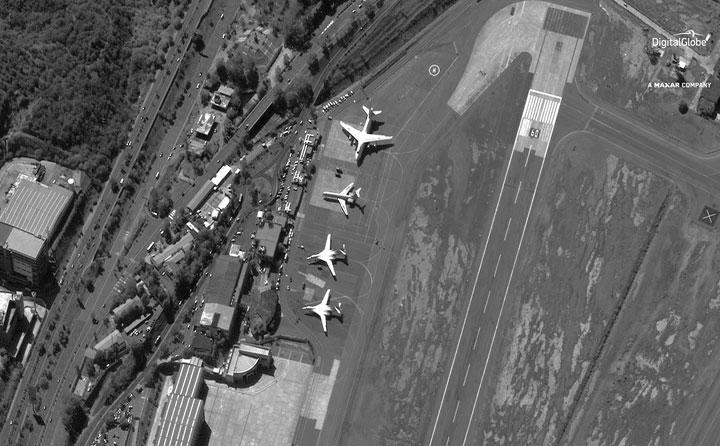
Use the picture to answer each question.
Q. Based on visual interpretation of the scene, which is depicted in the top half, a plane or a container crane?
plane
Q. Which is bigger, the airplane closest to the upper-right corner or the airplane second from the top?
the airplane closest to the upper-right corner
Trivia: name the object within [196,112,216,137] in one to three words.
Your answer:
house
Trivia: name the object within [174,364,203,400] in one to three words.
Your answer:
hangar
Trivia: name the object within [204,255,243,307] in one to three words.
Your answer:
building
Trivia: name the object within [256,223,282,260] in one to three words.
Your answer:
building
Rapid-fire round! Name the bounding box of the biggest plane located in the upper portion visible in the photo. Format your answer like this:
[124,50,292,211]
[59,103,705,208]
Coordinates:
[341,105,393,162]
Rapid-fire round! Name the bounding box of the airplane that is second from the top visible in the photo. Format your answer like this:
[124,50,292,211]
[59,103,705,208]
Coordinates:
[323,182,361,215]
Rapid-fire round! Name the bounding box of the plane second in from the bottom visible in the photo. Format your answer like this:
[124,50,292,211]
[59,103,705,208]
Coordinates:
[307,234,346,276]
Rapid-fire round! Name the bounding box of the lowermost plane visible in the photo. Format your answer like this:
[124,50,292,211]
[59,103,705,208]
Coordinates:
[302,289,341,331]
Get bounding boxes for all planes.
[323,182,361,215]
[302,289,341,331]
[341,105,393,162]
[307,234,346,276]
